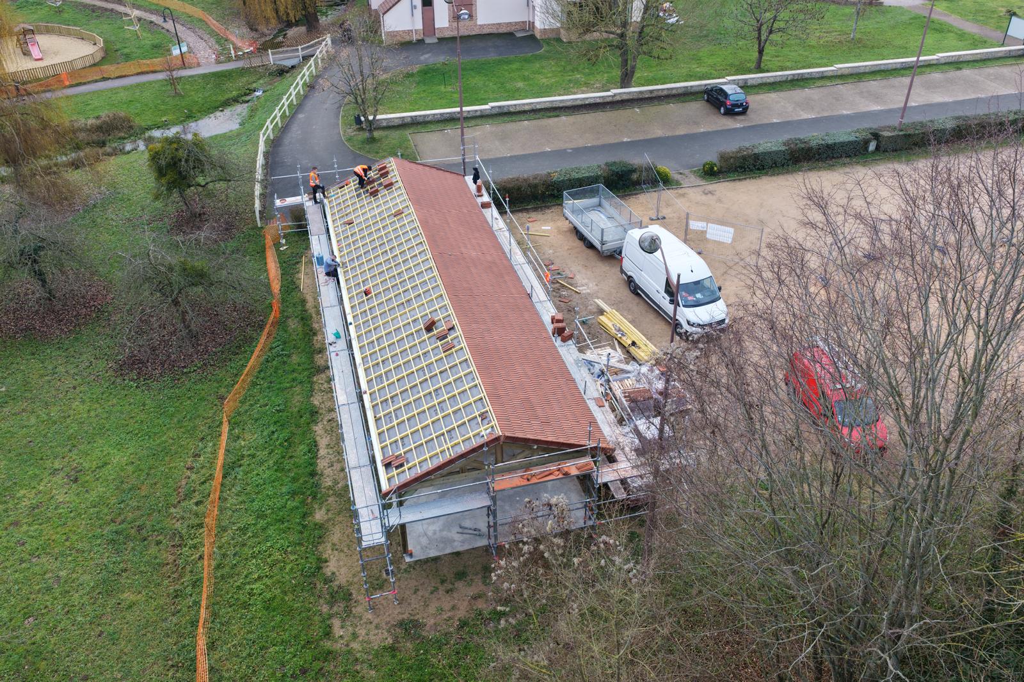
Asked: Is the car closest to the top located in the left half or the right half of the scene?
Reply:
right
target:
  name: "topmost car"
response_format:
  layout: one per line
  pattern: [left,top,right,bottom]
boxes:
[703,83,752,114]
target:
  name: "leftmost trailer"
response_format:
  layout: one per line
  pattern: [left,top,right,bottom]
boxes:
[564,188,647,256]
